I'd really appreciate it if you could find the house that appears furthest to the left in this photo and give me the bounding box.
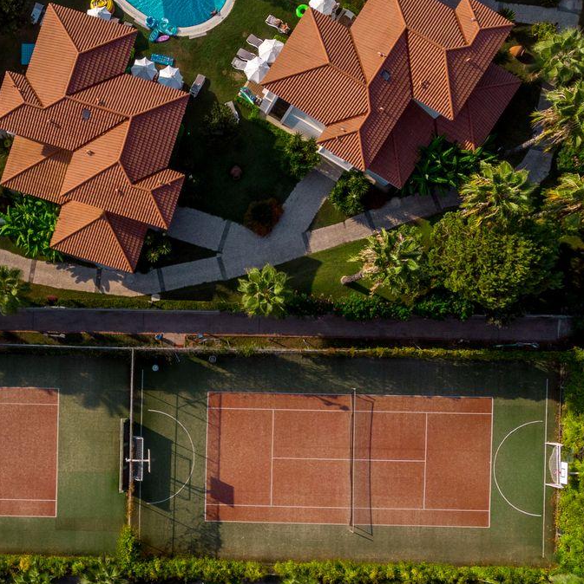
[0,1,192,273]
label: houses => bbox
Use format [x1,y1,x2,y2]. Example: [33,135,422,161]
[261,0,523,206]
[0,1,192,273]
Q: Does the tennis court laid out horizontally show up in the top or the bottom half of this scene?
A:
bottom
